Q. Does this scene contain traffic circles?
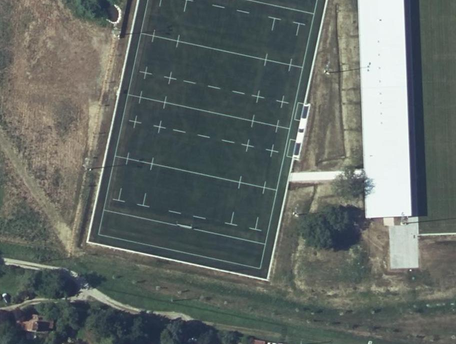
No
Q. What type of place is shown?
sports ground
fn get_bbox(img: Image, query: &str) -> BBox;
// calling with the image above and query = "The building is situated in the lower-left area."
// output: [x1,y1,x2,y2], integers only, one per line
[22,314,54,334]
